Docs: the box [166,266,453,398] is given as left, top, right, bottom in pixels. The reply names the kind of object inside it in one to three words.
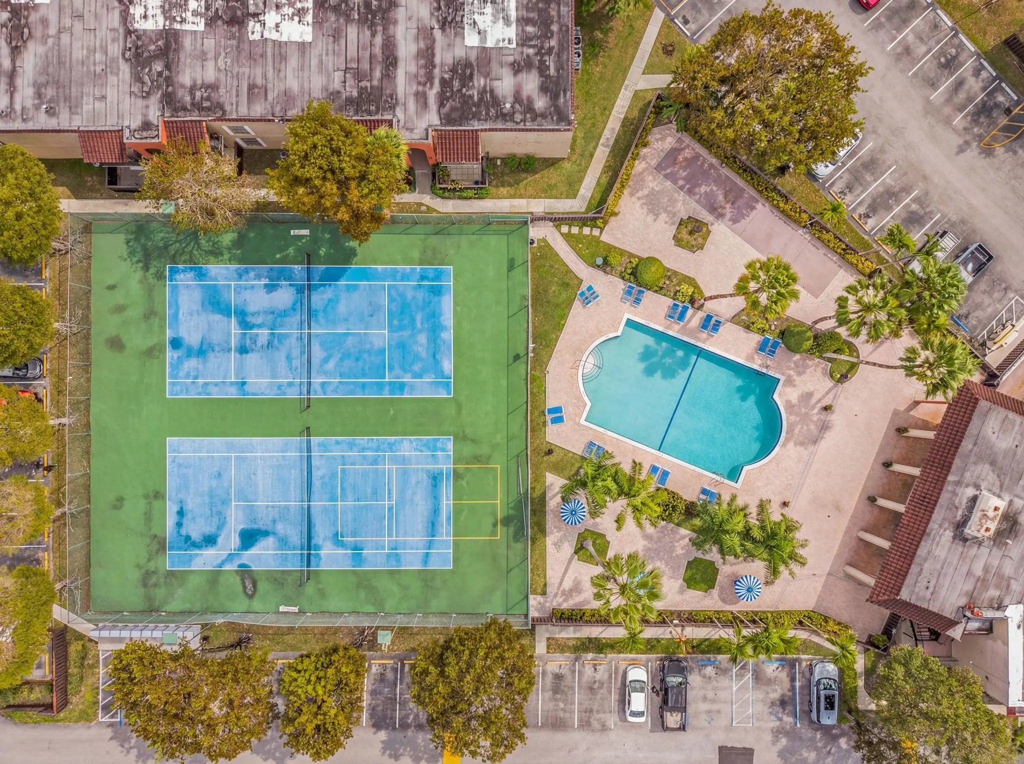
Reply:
tennis court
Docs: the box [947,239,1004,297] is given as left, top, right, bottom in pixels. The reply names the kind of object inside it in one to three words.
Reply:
truck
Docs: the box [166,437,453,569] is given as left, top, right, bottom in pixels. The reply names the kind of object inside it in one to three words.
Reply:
tennis court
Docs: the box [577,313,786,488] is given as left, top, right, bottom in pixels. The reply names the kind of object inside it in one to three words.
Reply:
swimming pool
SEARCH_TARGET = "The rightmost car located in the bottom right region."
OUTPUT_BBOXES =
[813,664,845,727]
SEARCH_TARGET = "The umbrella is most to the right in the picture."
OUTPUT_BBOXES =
[734,575,760,601]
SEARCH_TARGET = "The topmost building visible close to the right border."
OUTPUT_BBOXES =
[842,381,1024,641]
